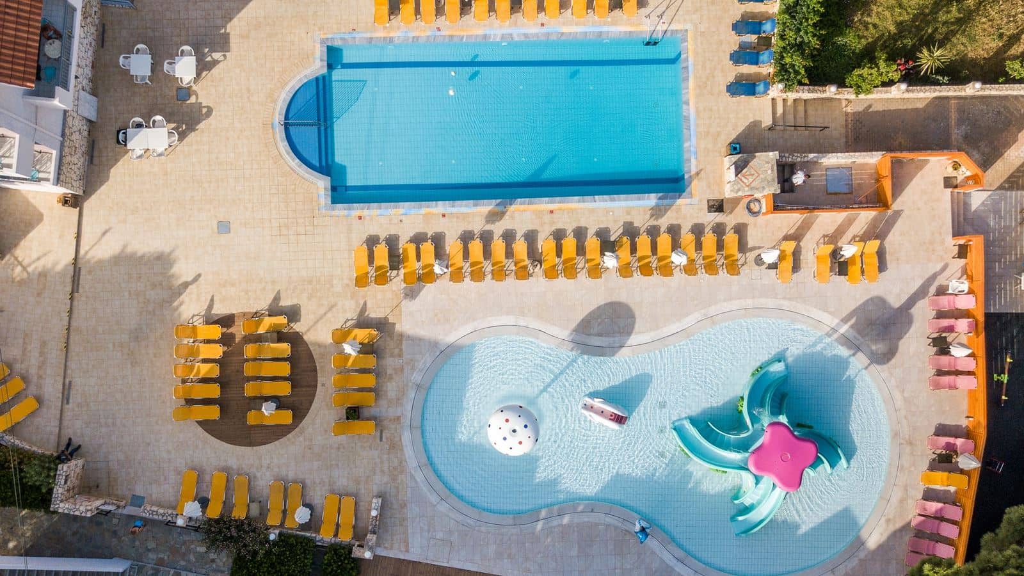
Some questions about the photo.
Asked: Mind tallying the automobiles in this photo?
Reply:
none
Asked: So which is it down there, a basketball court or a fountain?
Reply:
fountain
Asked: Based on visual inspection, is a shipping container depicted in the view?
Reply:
No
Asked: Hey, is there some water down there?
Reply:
Yes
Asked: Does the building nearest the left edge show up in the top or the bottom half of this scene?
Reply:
top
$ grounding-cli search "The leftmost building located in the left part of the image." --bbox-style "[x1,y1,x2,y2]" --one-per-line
[0,0,100,194]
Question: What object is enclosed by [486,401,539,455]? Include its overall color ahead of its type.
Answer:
white fountain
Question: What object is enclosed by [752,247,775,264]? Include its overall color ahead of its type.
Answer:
white umbrella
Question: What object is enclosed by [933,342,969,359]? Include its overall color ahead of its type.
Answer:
white umbrella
